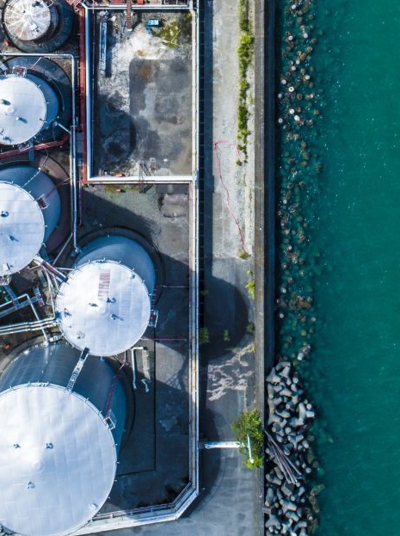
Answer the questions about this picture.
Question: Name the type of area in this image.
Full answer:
What you see here is an industrial area.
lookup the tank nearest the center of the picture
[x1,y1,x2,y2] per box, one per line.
[54,217,167,360]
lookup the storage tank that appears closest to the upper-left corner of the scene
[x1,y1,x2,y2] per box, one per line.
[0,0,74,53]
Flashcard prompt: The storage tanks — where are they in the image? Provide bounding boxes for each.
[0,149,78,289]
[0,55,79,156]
[0,0,74,53]
[54,217,167,360]
[0,329,139,536]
